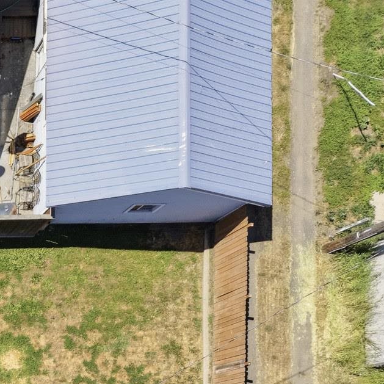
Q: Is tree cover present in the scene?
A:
No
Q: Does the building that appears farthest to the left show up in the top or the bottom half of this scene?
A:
top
